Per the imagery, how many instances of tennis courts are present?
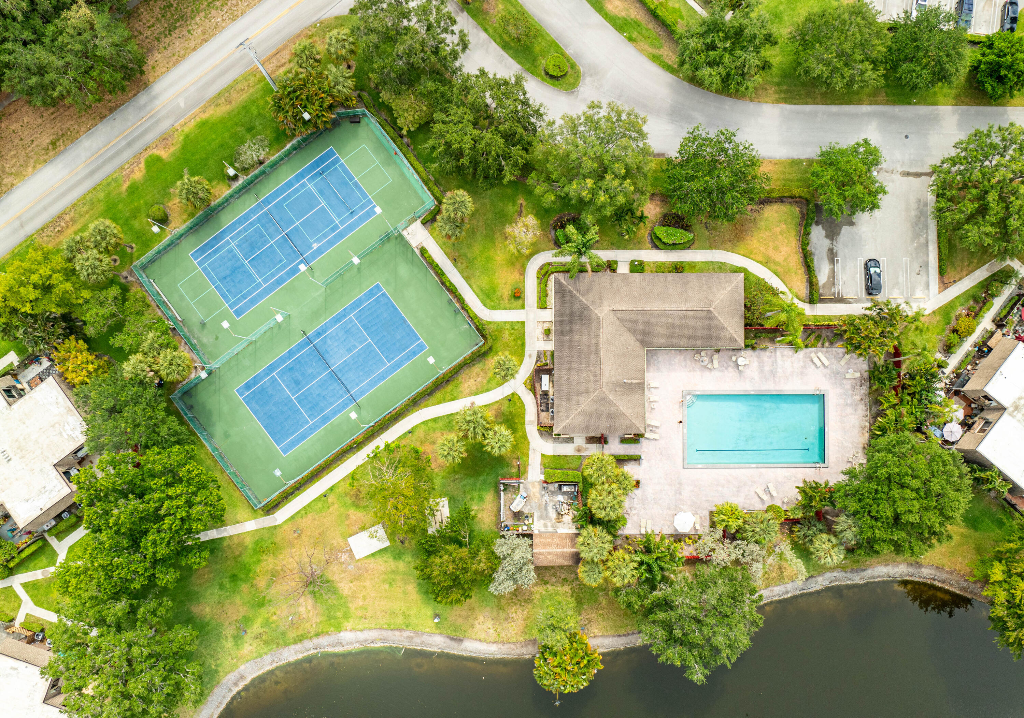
2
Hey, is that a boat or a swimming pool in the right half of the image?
swimming pool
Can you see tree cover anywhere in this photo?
Yes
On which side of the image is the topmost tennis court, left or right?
left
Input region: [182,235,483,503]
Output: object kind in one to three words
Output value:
tennis court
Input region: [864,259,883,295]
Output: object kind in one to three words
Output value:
car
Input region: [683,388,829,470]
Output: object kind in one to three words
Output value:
swimming pool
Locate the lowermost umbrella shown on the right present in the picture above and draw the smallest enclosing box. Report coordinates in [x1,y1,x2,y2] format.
[671,510,695,533]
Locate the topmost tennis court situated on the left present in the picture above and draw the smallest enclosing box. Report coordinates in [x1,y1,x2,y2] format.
[145,117,433,362]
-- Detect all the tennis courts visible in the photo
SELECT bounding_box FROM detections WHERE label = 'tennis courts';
[182,235,483,503]
[145,117,433,362]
